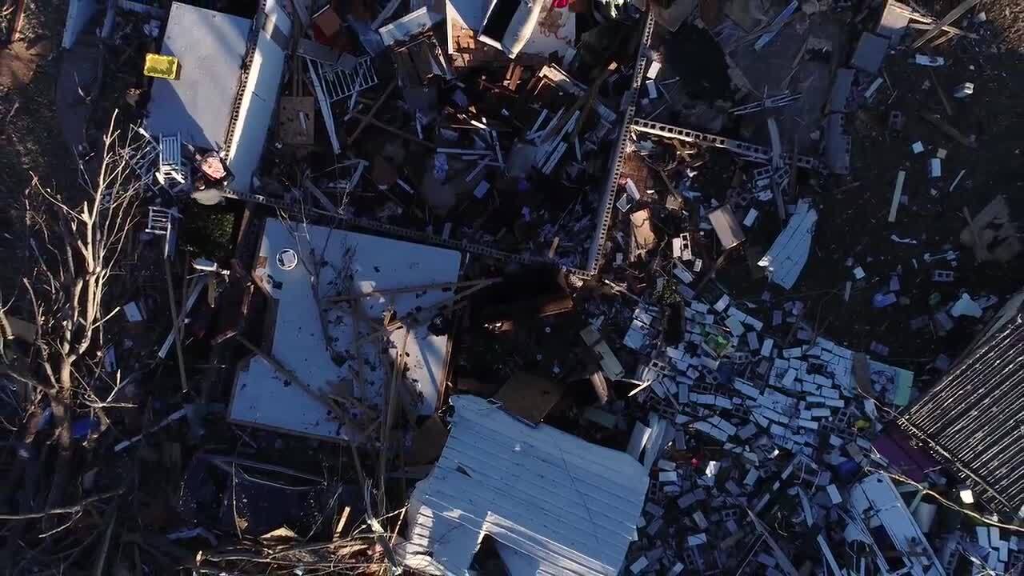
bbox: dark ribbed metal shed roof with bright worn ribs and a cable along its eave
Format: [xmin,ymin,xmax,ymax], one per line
[894,321,1024,523]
